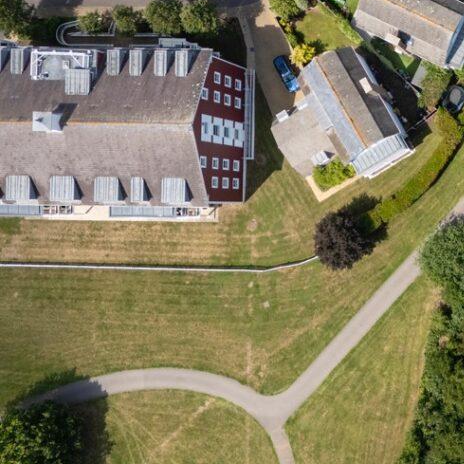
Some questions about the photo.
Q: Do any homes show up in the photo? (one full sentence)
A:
Yes, there is a home in the image.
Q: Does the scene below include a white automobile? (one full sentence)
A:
No, this view has no white automobile in it.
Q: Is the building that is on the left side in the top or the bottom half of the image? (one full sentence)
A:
The building that is on the left side sits in the top half of the picture.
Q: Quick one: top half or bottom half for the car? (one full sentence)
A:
The car sits in the top half of the picture.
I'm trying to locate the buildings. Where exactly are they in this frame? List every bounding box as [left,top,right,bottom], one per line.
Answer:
[0,45,254,219]
[270,45,417,182]
[356,0,464,72]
